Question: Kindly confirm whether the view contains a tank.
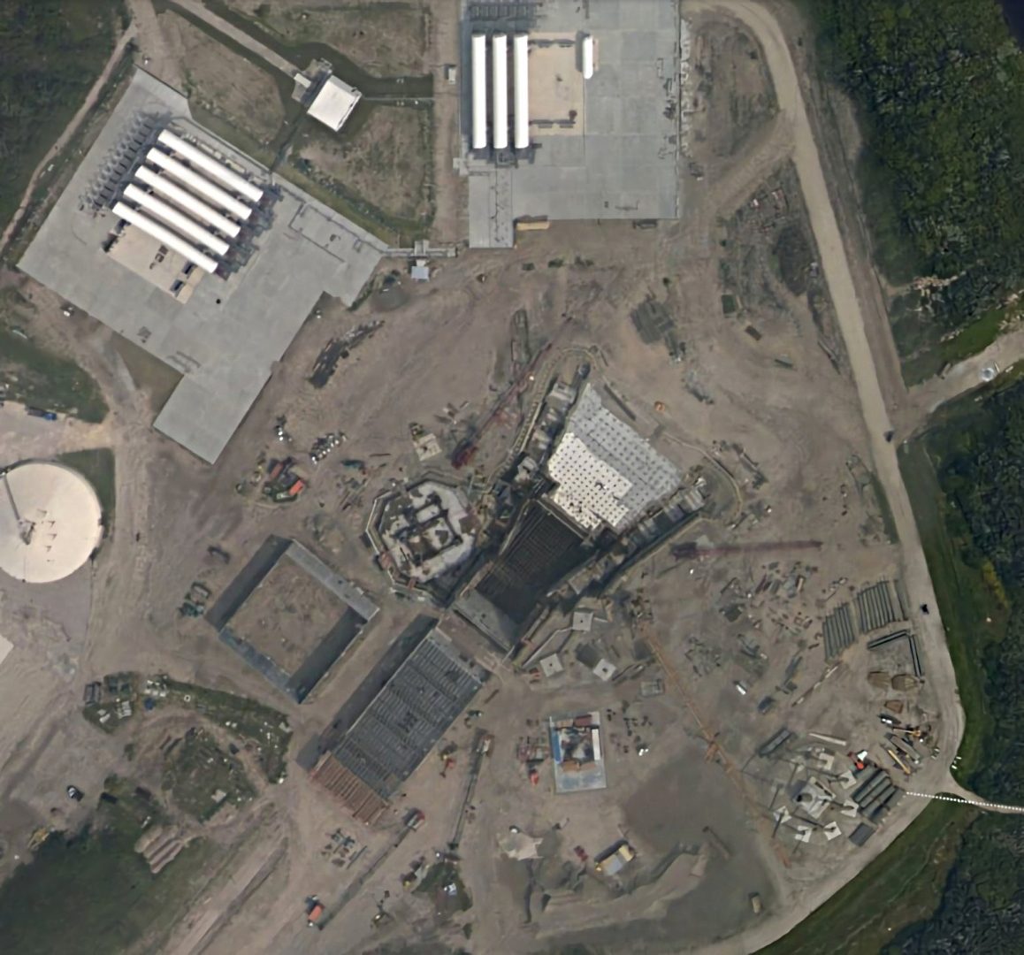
Yes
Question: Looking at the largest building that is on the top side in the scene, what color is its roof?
white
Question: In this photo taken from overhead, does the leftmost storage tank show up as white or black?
white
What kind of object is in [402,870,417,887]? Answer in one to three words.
work vehicle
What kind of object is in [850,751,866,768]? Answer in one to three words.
vehicle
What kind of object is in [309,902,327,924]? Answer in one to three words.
vehicle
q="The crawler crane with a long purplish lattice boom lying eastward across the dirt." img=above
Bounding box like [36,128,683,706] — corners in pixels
[670,538,823,559]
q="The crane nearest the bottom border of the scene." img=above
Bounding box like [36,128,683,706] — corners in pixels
[640,619,724,763]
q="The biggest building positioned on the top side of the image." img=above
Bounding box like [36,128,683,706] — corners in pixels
[309,75,362,132]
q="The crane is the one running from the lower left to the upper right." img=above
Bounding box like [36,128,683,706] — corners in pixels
[449,315,572,469]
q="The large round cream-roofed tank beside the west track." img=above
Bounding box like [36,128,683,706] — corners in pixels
[0,458,106,590]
